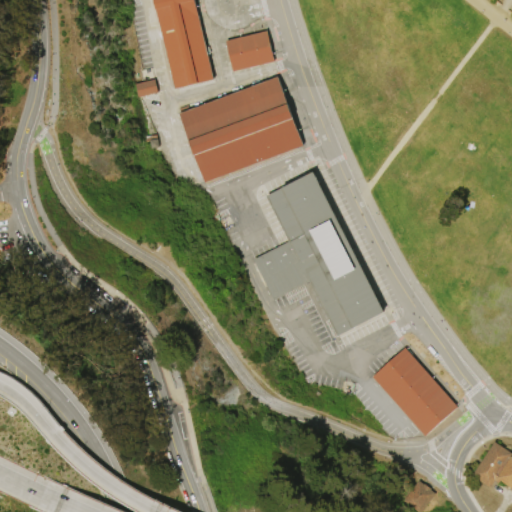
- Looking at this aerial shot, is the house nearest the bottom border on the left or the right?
right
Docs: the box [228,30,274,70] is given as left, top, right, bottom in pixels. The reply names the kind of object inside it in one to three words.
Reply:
building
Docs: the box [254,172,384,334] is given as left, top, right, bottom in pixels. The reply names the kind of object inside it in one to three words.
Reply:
building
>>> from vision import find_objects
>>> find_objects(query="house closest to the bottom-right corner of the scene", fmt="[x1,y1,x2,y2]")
[477,443,512,488]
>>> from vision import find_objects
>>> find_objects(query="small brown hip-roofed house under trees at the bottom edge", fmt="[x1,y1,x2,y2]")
[404,482,438,512]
